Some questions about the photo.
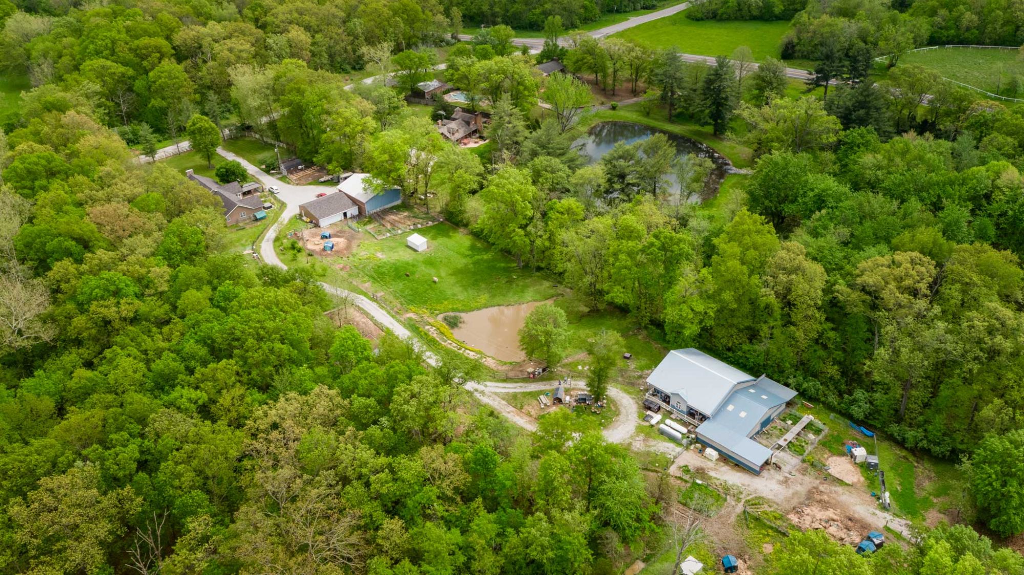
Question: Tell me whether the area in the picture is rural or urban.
rural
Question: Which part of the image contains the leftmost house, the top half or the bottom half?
top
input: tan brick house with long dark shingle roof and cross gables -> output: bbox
[182,174,264,225]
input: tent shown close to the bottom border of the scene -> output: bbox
[677,555,710,575]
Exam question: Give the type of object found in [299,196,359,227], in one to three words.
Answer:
building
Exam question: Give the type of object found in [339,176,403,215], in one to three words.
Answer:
barn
